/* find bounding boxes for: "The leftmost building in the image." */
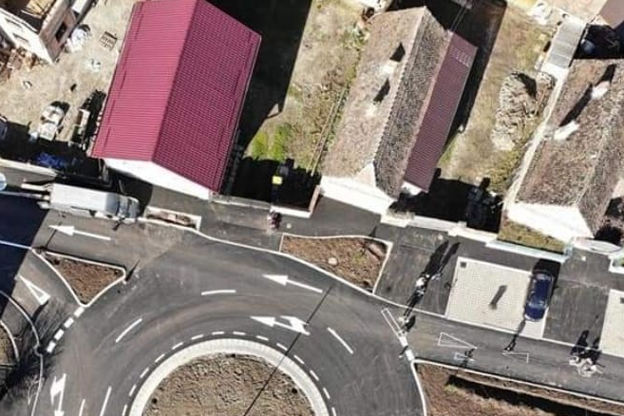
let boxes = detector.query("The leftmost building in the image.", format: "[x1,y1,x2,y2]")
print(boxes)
[0,0,79,62]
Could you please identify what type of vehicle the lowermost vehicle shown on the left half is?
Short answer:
truck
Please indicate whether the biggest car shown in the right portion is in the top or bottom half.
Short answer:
bottom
